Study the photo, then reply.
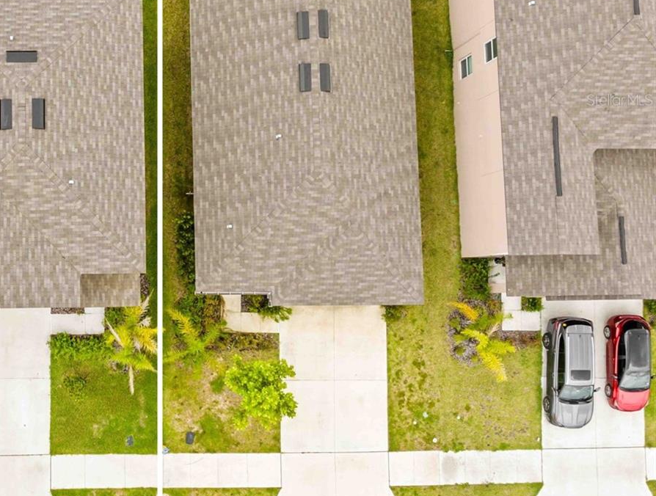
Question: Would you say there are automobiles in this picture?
Yes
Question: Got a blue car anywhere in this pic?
No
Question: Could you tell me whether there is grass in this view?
Yes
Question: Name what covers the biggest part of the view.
buildings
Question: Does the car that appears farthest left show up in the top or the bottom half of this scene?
bottom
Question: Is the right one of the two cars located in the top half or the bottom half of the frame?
bottom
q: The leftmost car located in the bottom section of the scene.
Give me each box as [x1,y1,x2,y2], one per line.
[539,316,602,431]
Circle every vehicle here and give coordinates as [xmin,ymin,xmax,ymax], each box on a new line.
[599,312,656,411]
[539,316,602,431]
